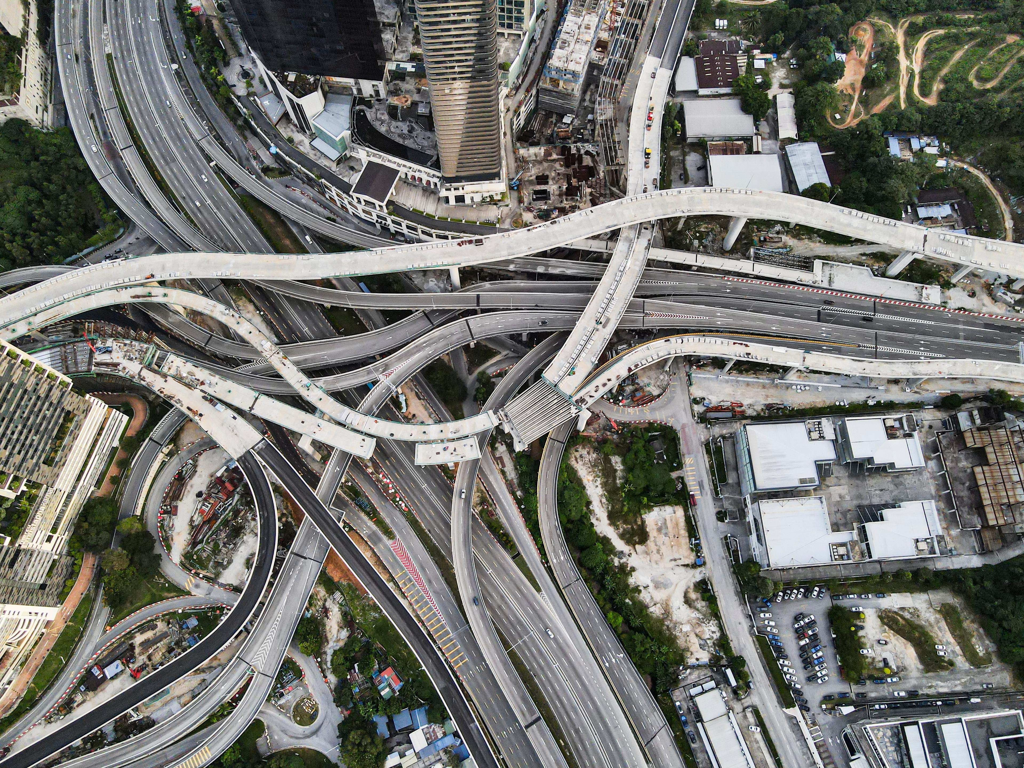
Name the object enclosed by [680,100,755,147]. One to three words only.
building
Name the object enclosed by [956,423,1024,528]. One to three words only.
shed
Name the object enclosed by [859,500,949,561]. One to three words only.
building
